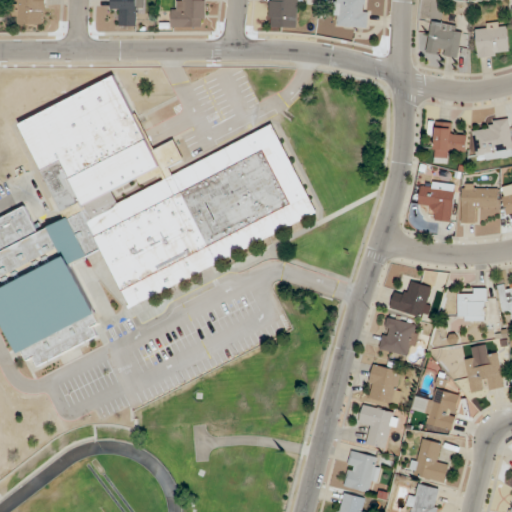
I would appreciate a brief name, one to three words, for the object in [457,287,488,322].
house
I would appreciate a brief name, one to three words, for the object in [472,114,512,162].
house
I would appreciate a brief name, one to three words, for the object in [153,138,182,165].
building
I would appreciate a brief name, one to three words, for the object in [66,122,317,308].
building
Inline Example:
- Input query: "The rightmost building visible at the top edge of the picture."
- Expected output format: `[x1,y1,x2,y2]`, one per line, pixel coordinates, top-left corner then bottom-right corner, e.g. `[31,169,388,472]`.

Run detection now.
[475,22,509,58]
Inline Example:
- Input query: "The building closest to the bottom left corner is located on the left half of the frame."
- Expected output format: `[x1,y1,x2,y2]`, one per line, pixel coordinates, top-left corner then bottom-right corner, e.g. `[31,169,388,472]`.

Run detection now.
[0,206,99,367]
